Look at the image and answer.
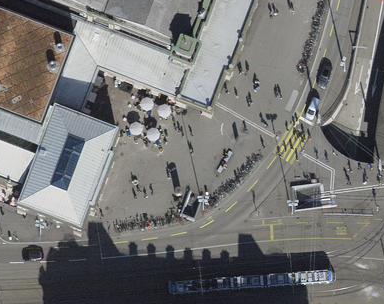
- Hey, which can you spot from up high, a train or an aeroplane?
train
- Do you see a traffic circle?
No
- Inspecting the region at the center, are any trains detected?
No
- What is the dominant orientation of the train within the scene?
from left to right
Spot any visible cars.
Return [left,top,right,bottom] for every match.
[306,98,320,122]
[318,62,332,86]
[23,248,44,258]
